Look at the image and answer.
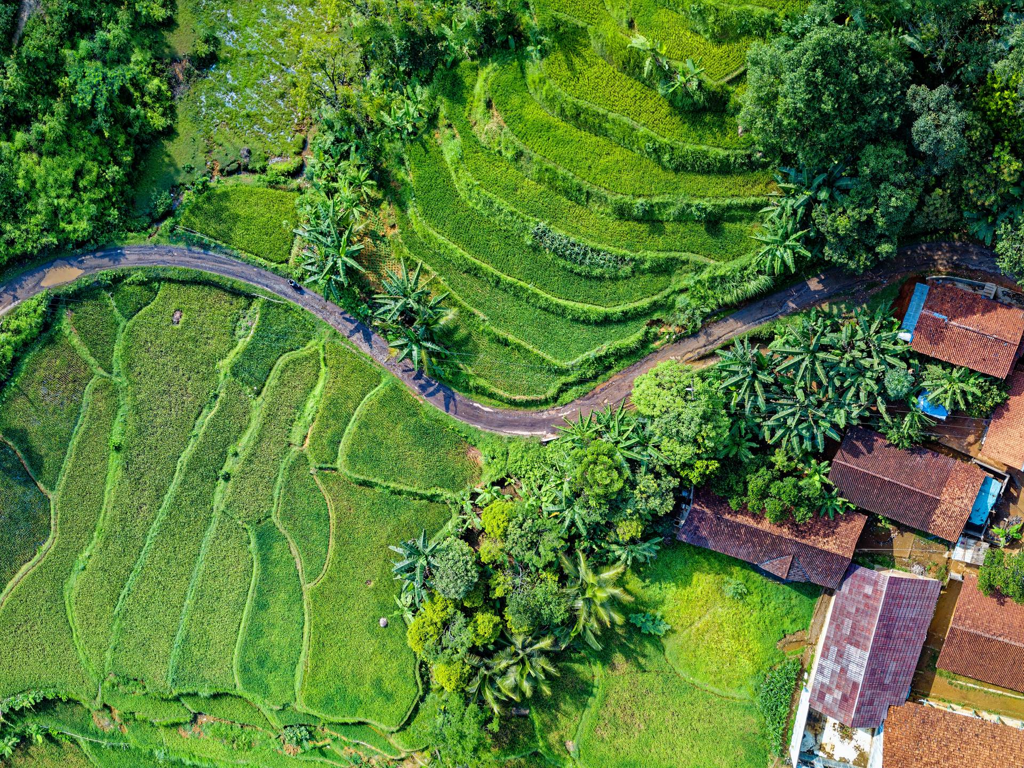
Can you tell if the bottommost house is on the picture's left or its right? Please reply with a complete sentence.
The bottommost house is on the right side of the image.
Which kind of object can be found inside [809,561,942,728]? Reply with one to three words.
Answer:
house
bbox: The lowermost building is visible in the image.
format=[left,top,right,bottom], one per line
[880,699,1024,768]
